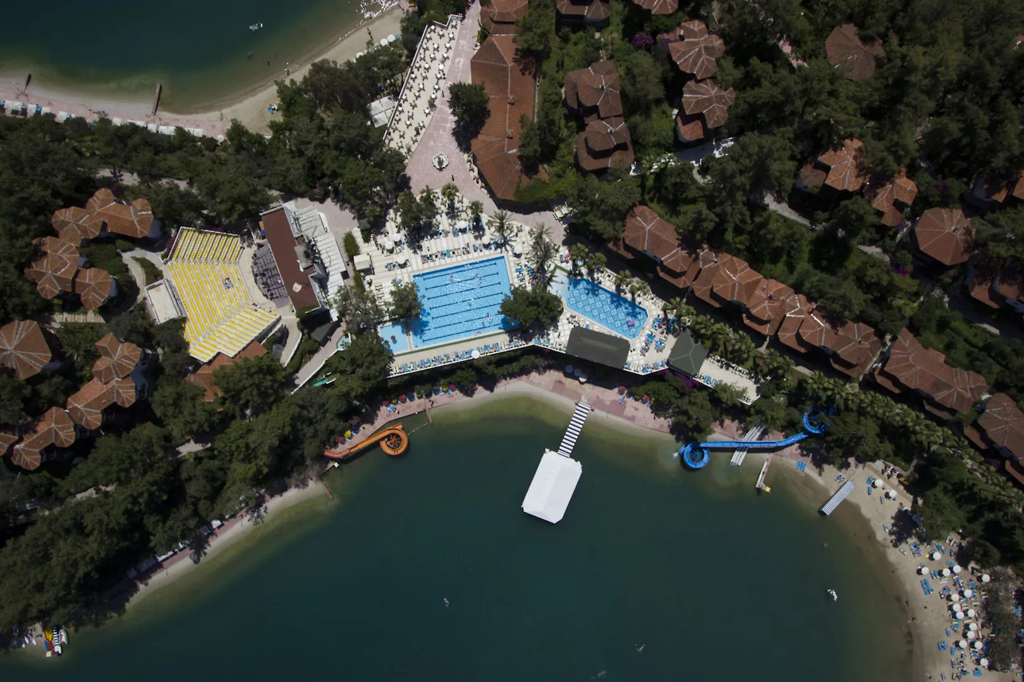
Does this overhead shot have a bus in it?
No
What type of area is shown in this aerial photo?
residential area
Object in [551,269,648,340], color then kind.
blue swimming pool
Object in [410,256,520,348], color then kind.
blue swimming pool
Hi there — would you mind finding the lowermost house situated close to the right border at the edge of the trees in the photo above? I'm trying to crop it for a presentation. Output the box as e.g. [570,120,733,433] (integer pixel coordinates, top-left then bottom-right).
[953,393,1024,481]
